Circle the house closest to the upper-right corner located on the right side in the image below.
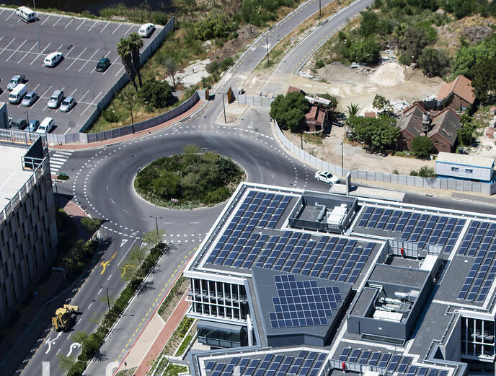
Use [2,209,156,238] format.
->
[441,73,473,111]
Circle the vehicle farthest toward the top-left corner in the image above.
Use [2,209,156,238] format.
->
[16,6,35,21]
